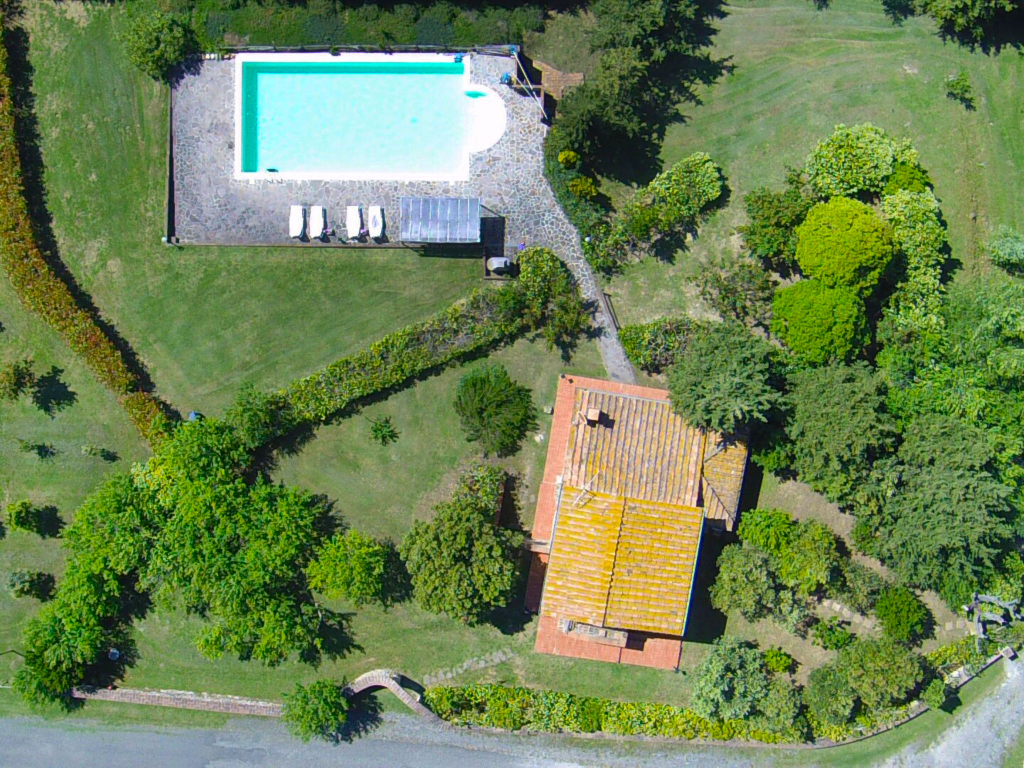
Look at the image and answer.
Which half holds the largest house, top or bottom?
bottom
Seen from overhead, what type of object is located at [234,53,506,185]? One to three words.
swimming pool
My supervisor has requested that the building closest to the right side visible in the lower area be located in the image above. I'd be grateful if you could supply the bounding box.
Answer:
[538,387,754,636]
